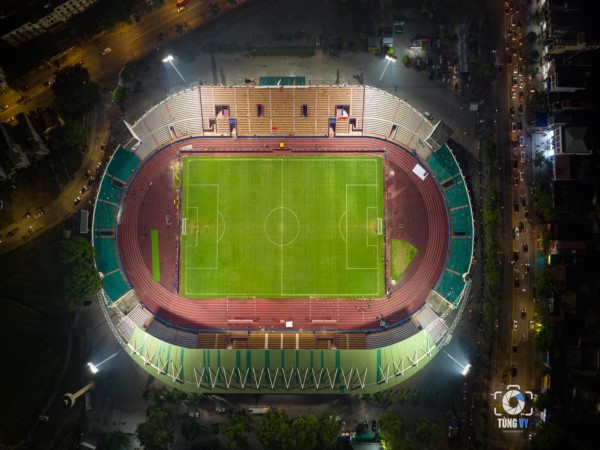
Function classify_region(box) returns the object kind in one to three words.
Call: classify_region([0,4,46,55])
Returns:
building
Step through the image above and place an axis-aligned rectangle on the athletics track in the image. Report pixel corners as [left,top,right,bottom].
[118,137,449,331]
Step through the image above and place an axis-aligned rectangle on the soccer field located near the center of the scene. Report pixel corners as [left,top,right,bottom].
[183,154,385,299]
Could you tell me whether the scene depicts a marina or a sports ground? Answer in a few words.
sports ground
